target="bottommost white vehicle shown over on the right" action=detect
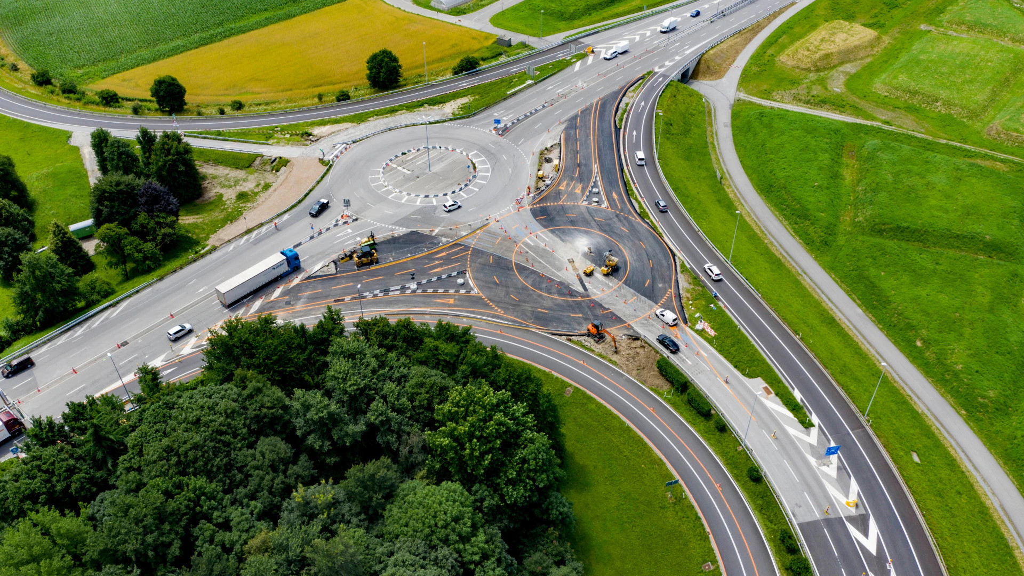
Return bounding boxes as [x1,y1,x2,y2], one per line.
[655,310,678,327]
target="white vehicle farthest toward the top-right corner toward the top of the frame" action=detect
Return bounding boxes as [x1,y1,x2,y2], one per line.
[661,16,677,31]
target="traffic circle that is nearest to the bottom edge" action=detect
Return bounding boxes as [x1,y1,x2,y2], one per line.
[547,228,627,279]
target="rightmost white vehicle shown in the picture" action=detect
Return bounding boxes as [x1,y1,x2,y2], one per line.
[702,265,723,281]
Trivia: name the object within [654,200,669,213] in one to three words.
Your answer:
vehicle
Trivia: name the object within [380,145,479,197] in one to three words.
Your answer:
roundabout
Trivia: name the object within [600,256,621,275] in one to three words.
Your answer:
vehicle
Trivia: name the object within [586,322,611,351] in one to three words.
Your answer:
work vehicle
